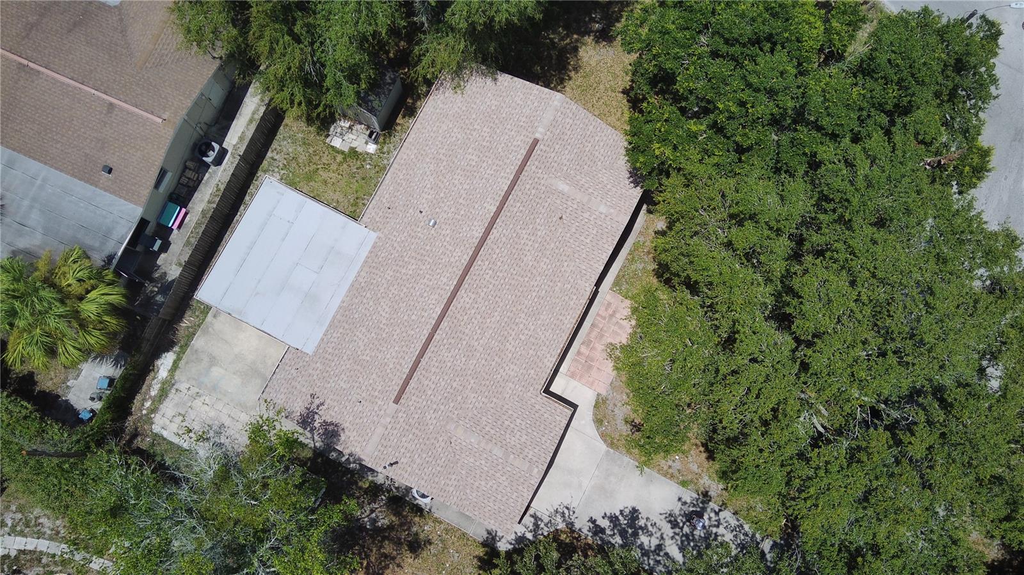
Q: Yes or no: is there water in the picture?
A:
No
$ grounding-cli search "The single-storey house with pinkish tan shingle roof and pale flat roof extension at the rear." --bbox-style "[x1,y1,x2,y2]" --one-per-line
[192,56,653,537]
